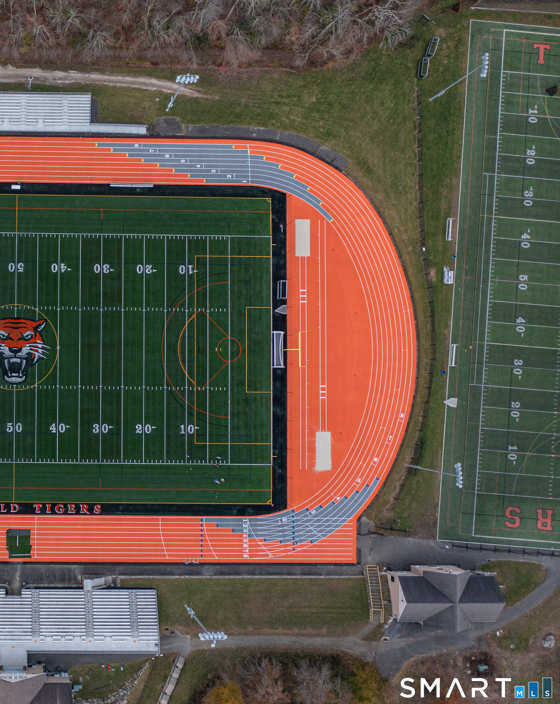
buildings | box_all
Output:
[388,565,505,634]
[0,662,72,704]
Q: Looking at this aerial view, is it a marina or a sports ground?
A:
sports ground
